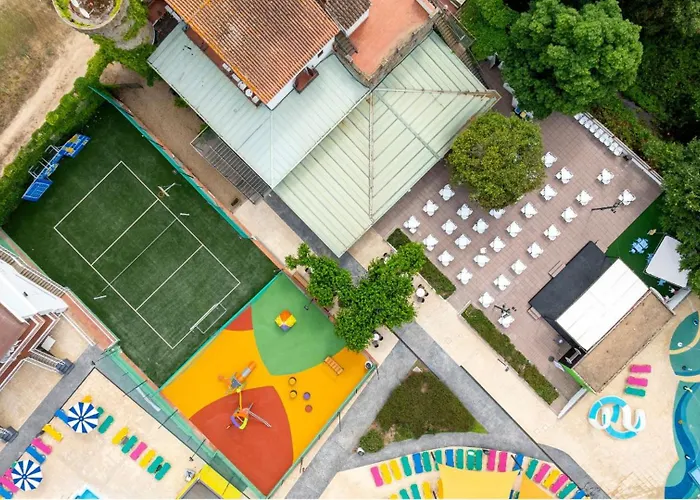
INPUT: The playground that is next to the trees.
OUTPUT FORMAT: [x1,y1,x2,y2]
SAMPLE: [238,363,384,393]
[166,276,375,495]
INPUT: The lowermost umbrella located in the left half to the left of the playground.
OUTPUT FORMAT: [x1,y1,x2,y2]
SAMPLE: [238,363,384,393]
[14,458,45,490]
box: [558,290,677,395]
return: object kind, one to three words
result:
shed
